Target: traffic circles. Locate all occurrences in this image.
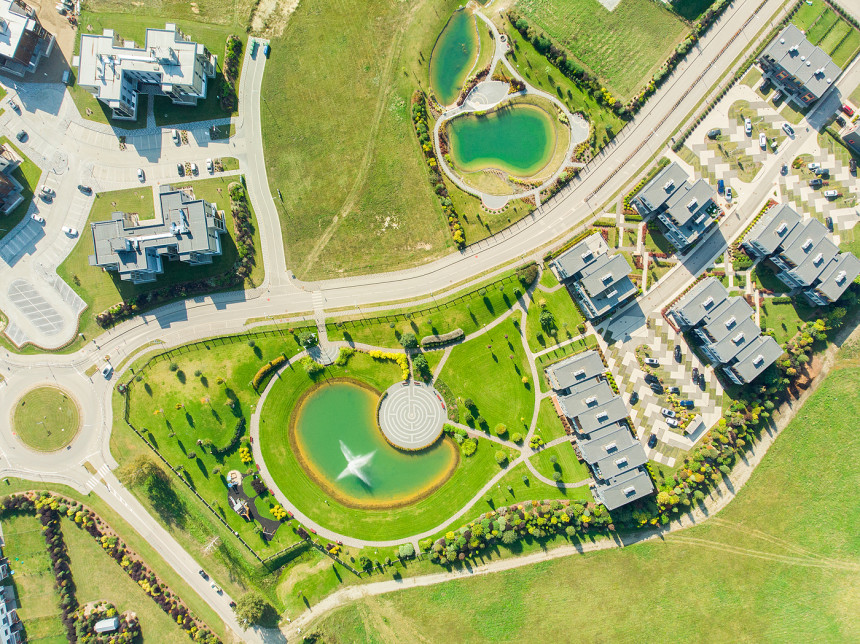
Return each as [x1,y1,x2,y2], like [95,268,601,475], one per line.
[0,364,103,474]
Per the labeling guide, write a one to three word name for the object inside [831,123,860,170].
house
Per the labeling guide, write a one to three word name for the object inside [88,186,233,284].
building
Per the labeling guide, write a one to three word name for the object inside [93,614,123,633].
shed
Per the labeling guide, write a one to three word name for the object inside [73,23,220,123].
building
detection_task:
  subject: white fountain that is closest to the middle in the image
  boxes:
[336,440,377,487]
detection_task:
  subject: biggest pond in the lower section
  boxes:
[292,380,459,507]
